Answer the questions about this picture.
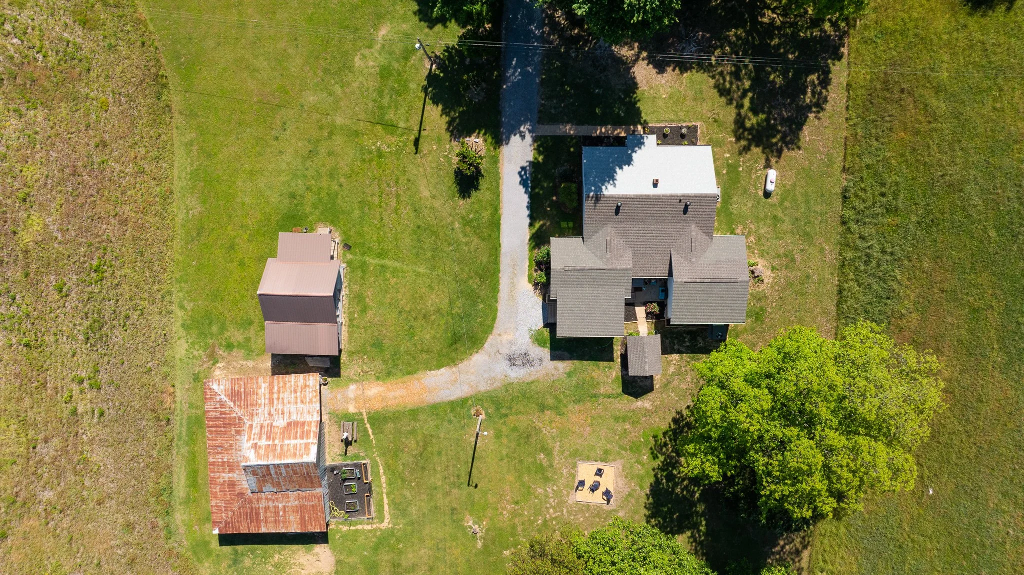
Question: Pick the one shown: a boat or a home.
home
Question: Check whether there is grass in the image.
Yes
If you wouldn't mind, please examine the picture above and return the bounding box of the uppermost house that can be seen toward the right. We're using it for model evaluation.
[550,134,749,337]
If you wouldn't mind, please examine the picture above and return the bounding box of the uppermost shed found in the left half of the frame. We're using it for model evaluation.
[257,232,348,356]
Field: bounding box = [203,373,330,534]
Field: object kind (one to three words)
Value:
barn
